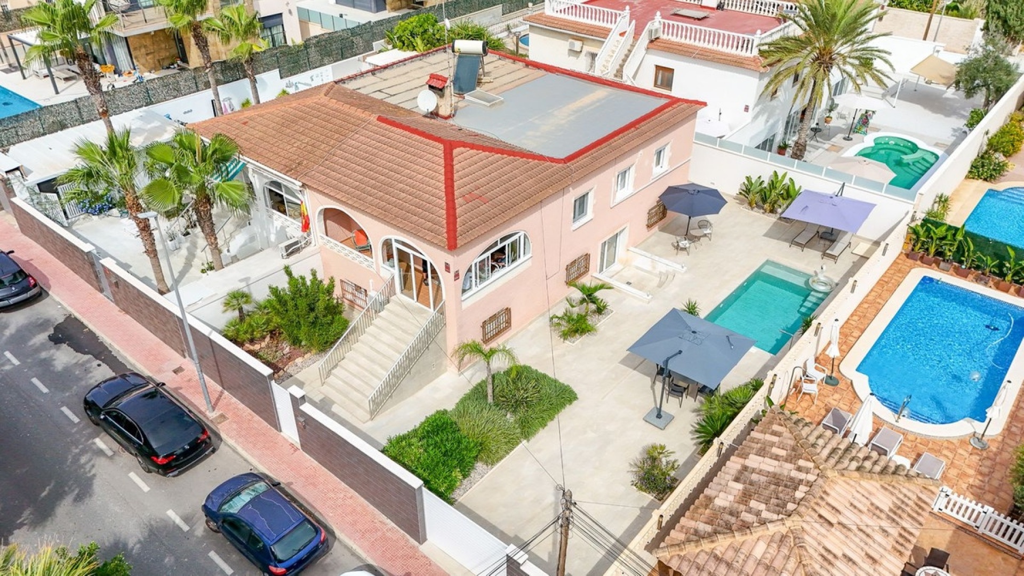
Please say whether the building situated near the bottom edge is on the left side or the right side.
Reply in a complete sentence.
It is on the right.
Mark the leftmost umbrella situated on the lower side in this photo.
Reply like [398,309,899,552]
[627,308,758,428]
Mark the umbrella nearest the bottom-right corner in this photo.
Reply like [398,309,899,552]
[968,379,1011,450]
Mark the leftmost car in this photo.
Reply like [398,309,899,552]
[0,248,31,307]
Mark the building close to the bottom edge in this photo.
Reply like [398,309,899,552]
[646,396,950,576]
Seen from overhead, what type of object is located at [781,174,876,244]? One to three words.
umbrella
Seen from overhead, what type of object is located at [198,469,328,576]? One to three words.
car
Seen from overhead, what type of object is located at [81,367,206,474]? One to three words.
car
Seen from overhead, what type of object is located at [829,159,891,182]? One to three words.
umbrella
